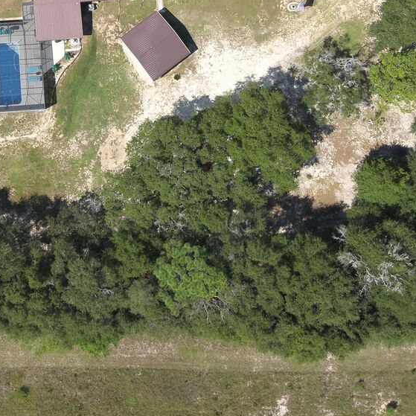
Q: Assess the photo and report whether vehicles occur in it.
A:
No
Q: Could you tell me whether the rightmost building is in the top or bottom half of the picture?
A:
top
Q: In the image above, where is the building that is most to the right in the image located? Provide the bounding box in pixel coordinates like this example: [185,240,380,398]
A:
[120,10,192,84]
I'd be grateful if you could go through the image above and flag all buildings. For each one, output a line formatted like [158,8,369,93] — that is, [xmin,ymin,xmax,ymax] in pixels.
[33,0,102,41]
[120,10,192,84]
